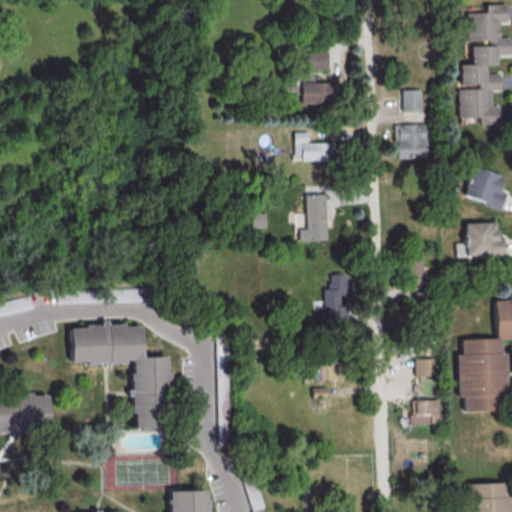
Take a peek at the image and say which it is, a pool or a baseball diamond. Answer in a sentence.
I can see a pool in this picture.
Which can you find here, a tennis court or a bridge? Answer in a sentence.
There is a tennis court in the scene.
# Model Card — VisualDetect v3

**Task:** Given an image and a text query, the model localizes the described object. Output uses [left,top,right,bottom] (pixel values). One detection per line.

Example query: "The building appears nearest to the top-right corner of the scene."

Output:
[460,5,512,126]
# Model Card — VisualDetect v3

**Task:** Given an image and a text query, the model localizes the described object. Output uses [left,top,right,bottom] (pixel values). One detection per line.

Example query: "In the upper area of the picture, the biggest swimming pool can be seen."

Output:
[258,134,273,149]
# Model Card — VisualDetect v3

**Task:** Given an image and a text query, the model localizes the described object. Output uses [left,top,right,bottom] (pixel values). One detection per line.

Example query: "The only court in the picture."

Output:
[106,456,179,490]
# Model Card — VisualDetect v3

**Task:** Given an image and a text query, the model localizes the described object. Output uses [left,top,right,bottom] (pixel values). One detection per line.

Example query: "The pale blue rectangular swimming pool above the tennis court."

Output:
[113,432,166,456]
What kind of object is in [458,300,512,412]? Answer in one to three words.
building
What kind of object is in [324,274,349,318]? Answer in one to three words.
house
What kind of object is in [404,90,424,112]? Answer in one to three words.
building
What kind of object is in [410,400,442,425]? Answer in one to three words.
house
